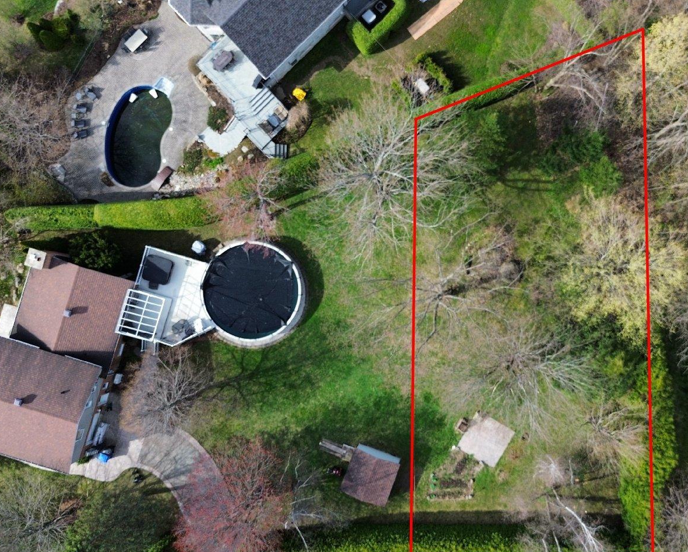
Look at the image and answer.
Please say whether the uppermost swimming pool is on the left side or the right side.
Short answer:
left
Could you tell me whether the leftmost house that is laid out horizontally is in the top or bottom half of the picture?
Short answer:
top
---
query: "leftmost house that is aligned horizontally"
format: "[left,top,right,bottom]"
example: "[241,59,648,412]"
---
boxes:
[165,0,362,87]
